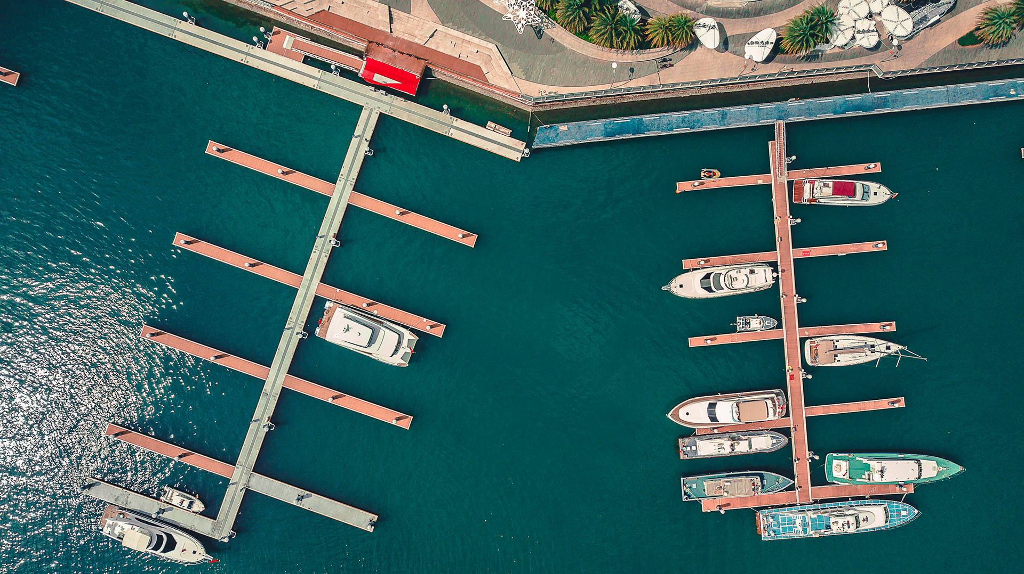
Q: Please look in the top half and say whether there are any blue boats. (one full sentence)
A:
No, no blue boat is visible in the top half.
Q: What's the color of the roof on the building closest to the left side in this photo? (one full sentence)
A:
From above, the roof of the building closest to the left side looks red.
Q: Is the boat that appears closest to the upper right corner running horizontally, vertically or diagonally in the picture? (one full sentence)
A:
In this picture, the boat that appears closest to the upper right corner lies horizontally.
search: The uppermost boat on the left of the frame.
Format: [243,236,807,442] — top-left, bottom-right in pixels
[315,301,418,366]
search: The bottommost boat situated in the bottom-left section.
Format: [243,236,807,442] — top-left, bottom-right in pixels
[99,505,219,567]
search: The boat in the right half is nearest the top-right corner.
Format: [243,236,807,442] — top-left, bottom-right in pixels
[792,178,898,207]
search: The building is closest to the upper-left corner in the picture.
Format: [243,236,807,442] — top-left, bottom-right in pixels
[356,38,425,100]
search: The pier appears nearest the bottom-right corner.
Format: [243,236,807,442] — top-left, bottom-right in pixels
[811,483,914,499]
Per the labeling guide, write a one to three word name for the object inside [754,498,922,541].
ship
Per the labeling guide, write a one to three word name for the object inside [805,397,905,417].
pier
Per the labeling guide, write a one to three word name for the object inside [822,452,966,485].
boat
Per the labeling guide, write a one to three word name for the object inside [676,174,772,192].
pier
